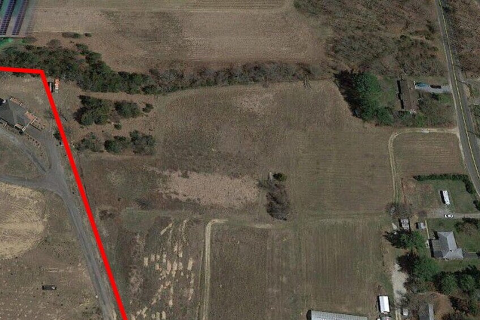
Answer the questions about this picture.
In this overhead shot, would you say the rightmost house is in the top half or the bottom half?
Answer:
bottom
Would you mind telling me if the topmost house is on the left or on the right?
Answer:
right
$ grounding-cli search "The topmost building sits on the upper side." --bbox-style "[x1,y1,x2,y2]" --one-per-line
[401,77,421,115]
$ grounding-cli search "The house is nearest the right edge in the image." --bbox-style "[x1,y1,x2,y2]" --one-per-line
[431,230,462,260]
